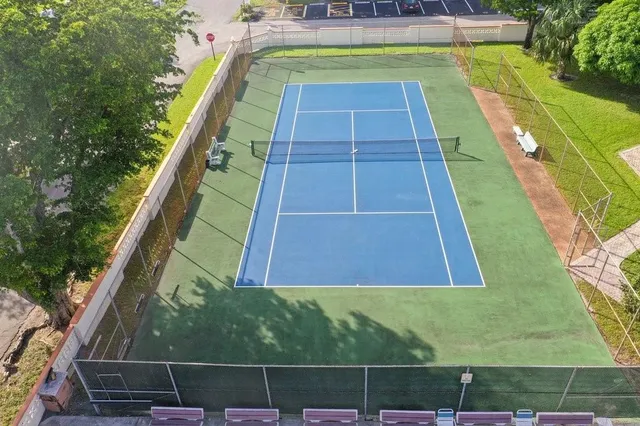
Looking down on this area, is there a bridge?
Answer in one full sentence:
No, no bridge is visible in the scene.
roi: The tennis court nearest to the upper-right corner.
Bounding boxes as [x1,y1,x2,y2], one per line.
[124,54,615,367]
